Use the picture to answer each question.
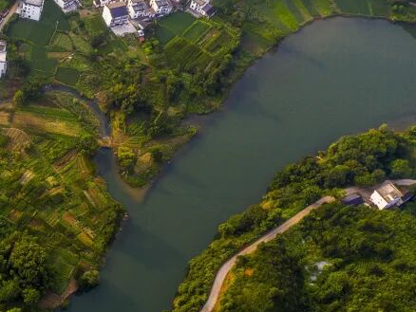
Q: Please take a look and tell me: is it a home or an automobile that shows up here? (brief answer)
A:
home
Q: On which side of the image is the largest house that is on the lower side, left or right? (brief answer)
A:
right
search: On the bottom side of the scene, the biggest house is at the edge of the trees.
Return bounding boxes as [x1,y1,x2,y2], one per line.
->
[370,179,408,210]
